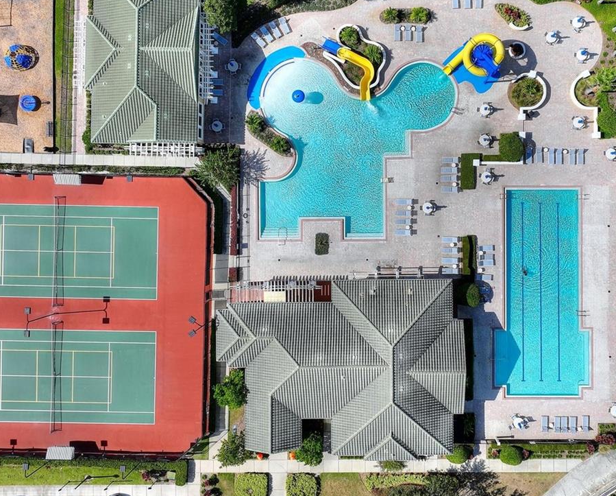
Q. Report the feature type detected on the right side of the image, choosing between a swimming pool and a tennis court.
swimming pool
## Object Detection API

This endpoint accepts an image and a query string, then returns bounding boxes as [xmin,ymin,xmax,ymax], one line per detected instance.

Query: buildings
[215,279,467,461]
[84,0,205,144]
